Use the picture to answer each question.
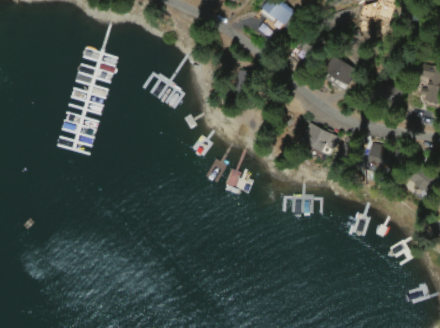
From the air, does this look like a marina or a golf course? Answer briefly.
marina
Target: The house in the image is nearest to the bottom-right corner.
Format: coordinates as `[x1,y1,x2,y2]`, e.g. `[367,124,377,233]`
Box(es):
[405,172,434,198]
